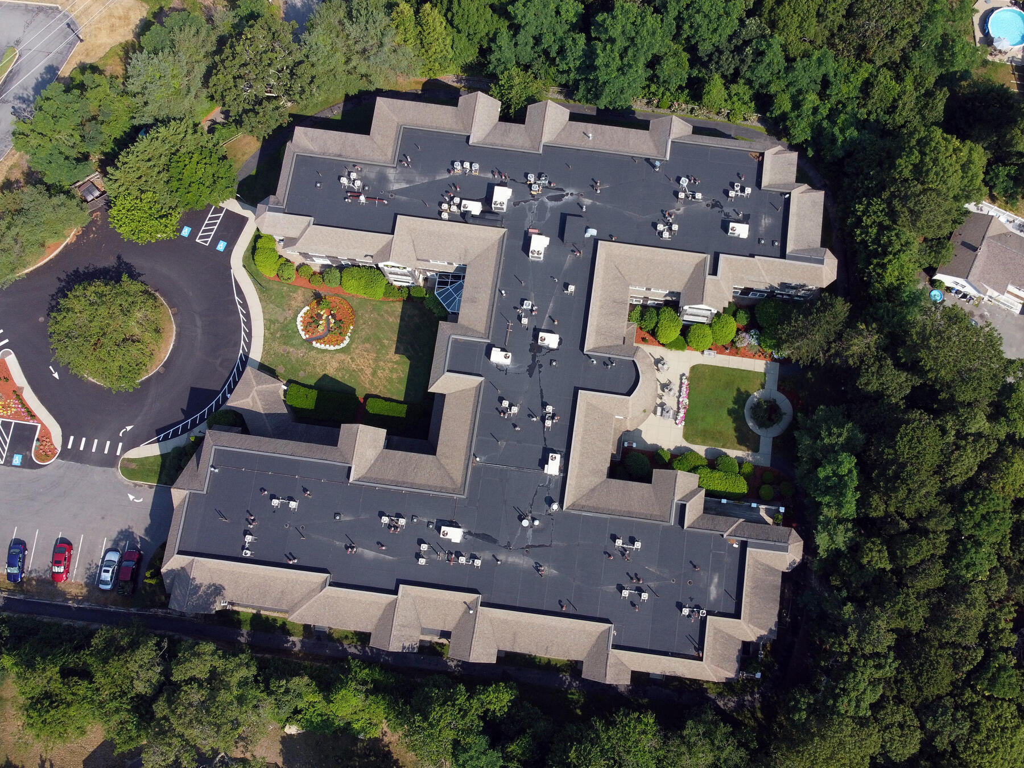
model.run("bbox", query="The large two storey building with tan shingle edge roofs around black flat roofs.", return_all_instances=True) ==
[160,91,838,685]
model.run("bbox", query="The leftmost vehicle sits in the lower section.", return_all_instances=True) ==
[3,543,31,584]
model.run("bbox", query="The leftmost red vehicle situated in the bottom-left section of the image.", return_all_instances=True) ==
[47,542,73,584]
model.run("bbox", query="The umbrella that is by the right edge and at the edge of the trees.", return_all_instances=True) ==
[993,37,1009,52]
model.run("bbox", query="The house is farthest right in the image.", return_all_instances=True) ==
[928,212,1024,315]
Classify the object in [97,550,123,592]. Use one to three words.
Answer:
car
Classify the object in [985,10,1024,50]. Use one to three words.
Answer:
swimming pool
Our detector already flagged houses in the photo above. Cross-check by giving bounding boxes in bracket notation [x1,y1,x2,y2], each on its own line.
[928,212,1024,315]
[160,91,838,685]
